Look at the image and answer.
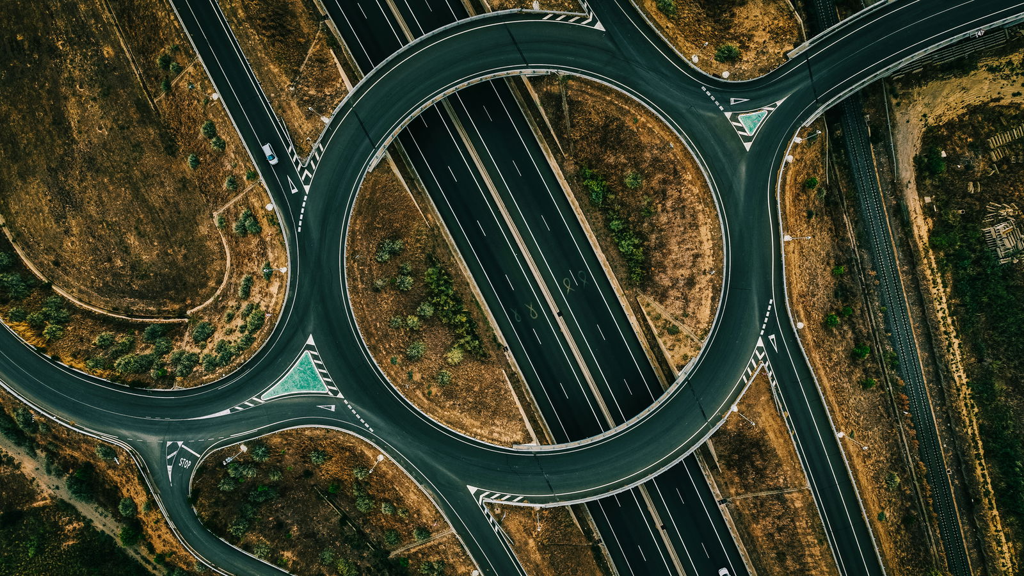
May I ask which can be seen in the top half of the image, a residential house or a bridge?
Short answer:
bridge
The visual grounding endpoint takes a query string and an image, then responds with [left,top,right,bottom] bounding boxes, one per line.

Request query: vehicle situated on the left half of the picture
[261,142,277,164]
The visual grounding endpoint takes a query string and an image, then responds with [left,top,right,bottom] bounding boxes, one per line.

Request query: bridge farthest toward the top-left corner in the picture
[333,6,551,165]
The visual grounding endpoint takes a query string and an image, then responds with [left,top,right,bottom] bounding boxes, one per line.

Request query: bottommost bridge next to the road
[511,354,729,510]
